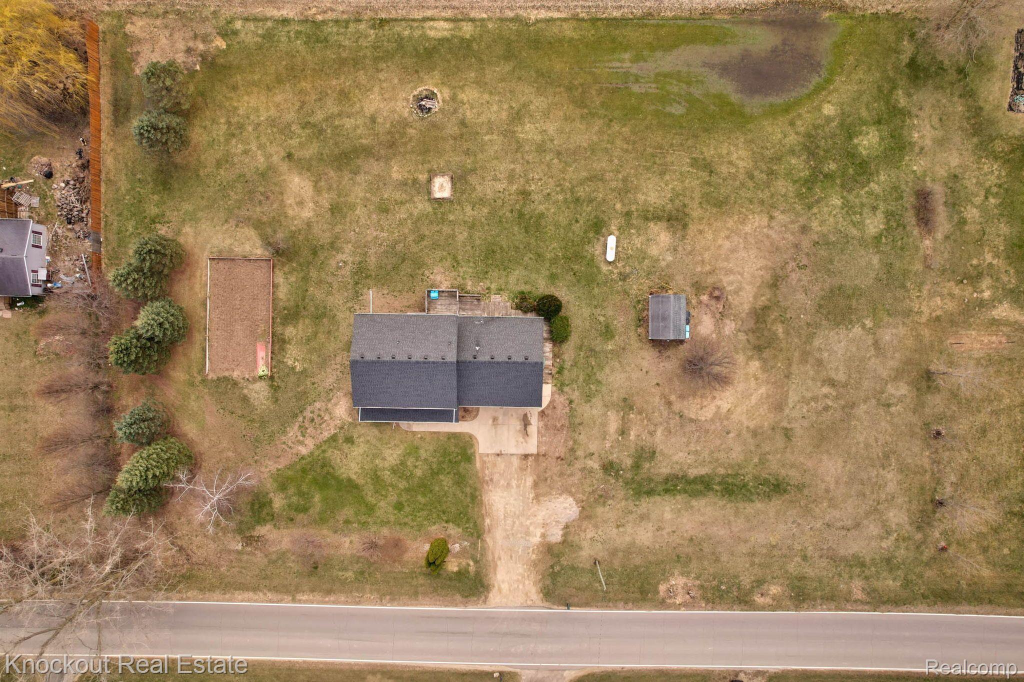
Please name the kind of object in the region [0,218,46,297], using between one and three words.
house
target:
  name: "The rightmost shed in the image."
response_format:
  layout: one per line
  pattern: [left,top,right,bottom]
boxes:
[648,294,686,340]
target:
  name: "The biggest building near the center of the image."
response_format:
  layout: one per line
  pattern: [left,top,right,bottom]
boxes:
[350,311,544,422]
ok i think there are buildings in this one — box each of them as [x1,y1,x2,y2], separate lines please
[648,294,686,340]
[350,311,544,422]
[0,218,46,297]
